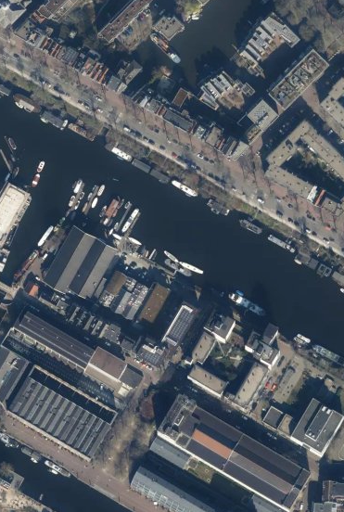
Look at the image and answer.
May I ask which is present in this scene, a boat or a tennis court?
boat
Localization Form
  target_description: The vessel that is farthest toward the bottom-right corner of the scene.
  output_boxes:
[312,344,344,366]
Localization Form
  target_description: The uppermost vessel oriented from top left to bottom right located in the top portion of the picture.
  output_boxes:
[155,39,183,65]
